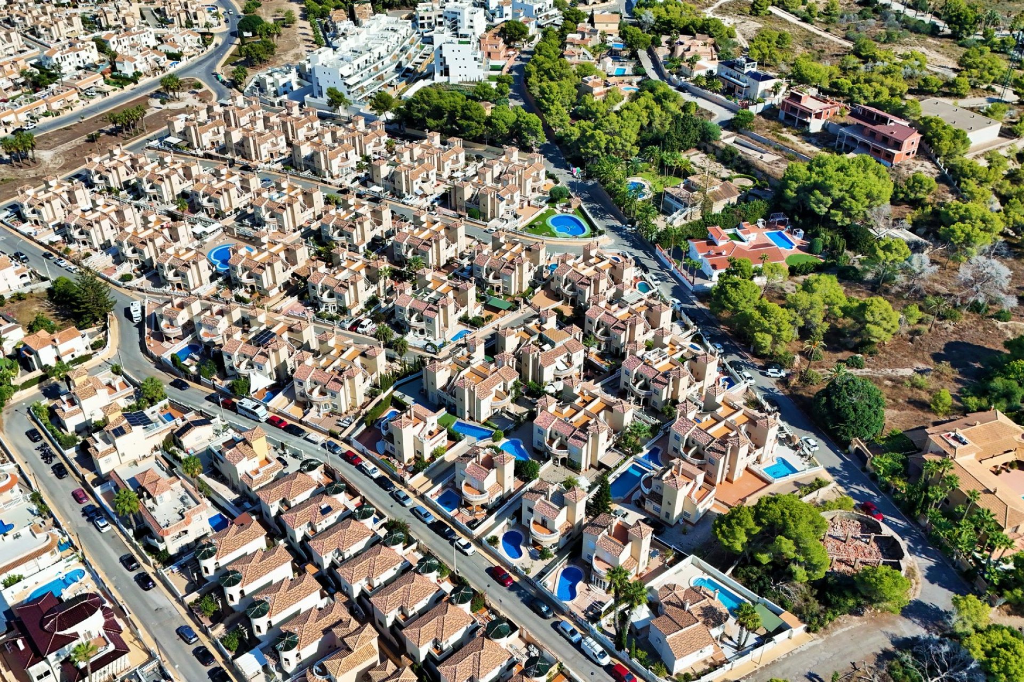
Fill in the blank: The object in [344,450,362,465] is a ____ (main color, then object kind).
red car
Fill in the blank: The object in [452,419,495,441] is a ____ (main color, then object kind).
blue swimming pool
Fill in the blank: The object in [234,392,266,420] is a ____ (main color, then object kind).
white camper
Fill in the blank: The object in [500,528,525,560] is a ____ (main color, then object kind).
blue swimming pool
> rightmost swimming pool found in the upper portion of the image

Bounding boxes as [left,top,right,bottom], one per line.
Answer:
[766,230,796,249]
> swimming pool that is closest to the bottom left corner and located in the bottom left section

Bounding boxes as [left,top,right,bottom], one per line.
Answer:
[18,567,87,608]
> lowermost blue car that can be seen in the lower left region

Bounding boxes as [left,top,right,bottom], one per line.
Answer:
[174,623,199,645]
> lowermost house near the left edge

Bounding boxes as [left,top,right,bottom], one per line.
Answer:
[5,601,137,682]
